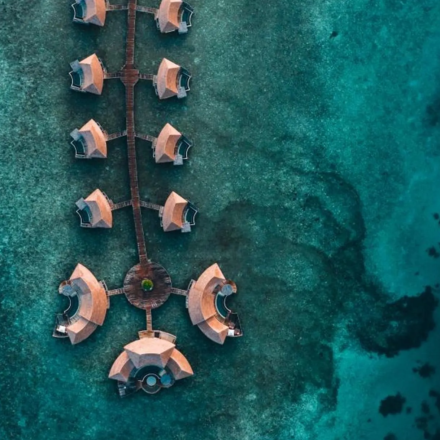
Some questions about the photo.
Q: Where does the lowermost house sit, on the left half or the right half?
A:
left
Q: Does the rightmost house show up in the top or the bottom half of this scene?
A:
bottom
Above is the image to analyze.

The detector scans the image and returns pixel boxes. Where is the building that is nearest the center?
[158,191,199,232]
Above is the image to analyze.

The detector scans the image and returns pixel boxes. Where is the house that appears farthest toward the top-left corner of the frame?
[71,0,111,28]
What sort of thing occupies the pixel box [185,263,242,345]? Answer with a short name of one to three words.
house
